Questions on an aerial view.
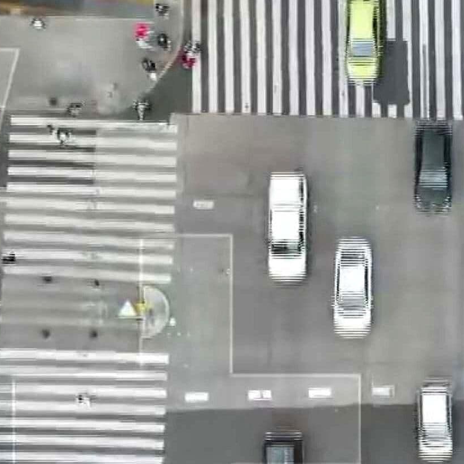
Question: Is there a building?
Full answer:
No, the picture doesn't show any building.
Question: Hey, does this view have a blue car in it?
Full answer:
No, the frame has no blue car in it.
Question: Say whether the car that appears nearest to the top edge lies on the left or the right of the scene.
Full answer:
You can find the car that appears nearest to the top edge on the right side of the picture.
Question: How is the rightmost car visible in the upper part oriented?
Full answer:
What the image shows is the rightmost car visible in the upper part lying from top to bottom.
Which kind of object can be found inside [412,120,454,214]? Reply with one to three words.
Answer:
car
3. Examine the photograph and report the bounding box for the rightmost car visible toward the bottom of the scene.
[413,378,457,462]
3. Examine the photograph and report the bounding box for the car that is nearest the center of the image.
[264,171,310,282]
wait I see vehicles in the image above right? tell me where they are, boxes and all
[413,378,457,462]
[330,238,375,338]
[412,120,454,214]
[264,171,310,282]
[341,0,384,86]
[265,430,303,464]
